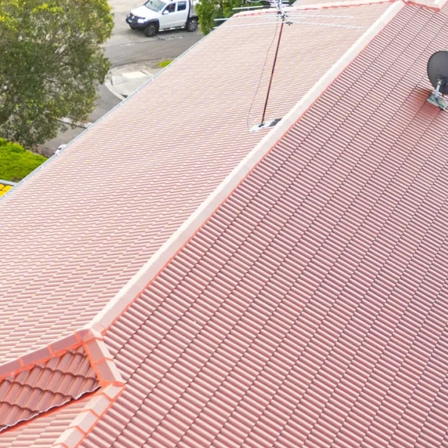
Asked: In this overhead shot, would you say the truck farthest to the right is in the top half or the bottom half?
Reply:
top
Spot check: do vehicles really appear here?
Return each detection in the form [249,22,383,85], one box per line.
[126,0,204,37]
[57,144,66,151]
